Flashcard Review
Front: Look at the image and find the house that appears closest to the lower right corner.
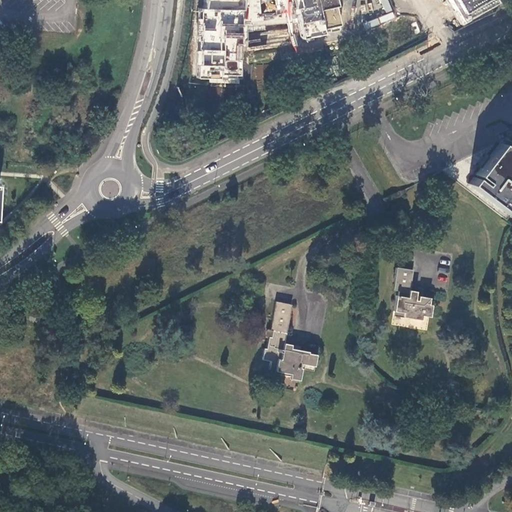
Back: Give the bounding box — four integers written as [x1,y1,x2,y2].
[391,290,434,331]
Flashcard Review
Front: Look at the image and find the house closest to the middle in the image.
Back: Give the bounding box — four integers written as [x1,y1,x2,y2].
[263,302,318,382]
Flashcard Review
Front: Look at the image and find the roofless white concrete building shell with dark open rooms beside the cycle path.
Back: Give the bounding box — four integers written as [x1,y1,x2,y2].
[197,0,244,82]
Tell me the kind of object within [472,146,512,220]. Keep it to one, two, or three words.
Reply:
building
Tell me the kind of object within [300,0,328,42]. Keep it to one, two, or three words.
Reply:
building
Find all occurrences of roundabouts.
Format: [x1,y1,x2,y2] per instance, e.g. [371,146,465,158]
[83,161,137,215]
